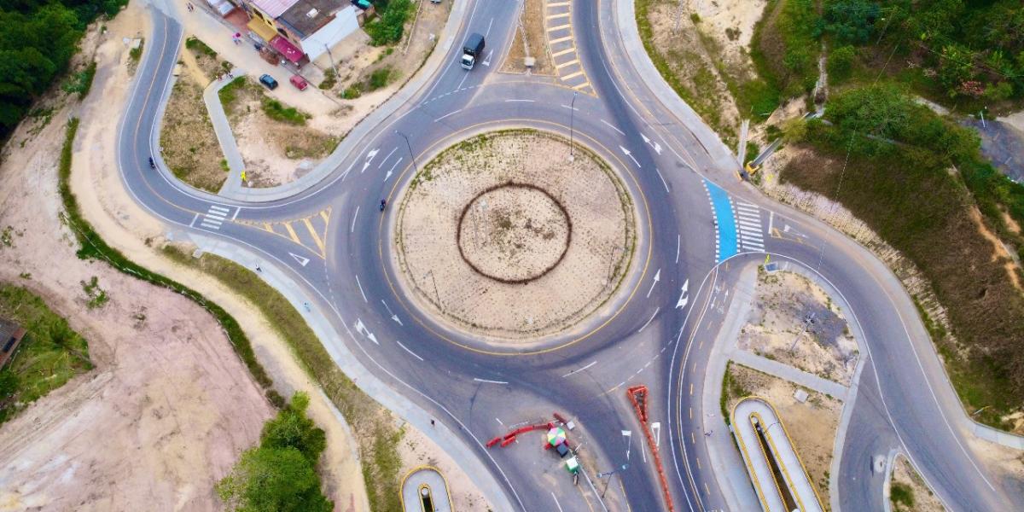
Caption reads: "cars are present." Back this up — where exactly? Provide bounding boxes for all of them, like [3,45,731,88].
[288,75,308,89]
[258,73,278,89]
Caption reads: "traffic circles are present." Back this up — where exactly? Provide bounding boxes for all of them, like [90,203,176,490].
[339,89,696,395]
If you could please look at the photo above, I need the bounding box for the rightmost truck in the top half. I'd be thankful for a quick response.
[461,33,487,68]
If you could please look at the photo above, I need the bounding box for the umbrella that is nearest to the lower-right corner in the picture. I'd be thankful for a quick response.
[547,428,565,446]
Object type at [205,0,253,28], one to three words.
house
